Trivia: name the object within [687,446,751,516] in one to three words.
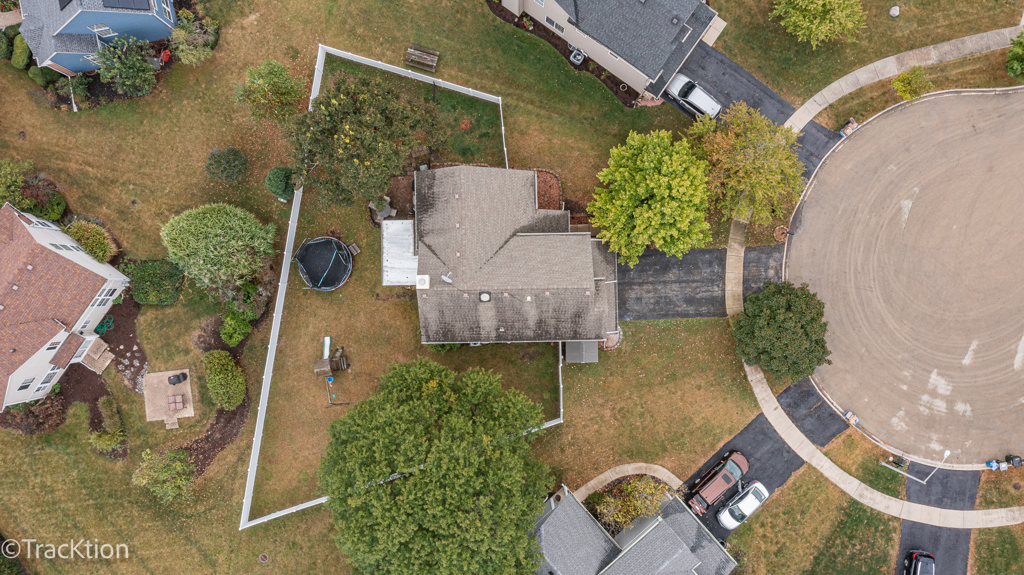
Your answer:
car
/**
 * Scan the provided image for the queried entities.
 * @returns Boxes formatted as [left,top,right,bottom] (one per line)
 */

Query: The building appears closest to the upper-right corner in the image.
[500,0,719,107]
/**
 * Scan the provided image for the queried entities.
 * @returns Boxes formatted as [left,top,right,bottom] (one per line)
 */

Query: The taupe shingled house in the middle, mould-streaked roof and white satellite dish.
[413,165,620,348]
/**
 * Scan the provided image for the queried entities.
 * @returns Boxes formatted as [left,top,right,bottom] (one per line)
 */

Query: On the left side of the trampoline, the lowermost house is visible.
[0,201,130,413]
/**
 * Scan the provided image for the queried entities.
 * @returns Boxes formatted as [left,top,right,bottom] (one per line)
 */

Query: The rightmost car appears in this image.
[904,553,935,575]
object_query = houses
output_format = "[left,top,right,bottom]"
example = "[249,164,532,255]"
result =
[526,486,739,575]
[500,0,719,107]
[413,165,620,348]
[16,0,176,78]
[0,201,130,413]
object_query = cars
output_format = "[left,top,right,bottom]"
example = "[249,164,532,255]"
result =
[904,553,935,575]
[669,73,725,120]
[717,481,771,531]
[687,446,751,516]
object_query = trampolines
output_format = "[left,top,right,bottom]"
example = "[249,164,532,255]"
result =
[291,236,355,293]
